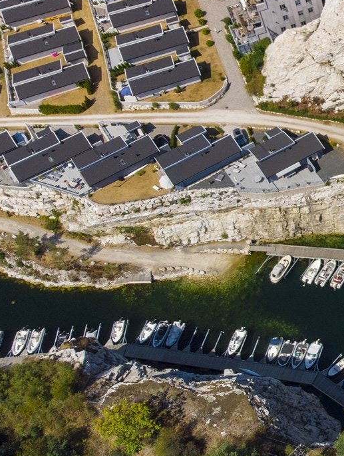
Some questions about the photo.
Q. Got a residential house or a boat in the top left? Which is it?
residential house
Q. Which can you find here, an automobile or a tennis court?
automobile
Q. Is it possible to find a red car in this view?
No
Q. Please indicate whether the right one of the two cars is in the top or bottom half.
top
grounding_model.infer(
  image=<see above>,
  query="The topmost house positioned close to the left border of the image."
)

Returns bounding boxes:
[0,0,75,33]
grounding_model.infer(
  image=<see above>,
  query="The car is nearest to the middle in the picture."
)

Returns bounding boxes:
[152,131,170,151]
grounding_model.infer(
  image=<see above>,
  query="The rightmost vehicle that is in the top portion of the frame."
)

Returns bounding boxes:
[230,127,249,147]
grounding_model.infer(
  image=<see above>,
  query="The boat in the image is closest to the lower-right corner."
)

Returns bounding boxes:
[329,358,344,379]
